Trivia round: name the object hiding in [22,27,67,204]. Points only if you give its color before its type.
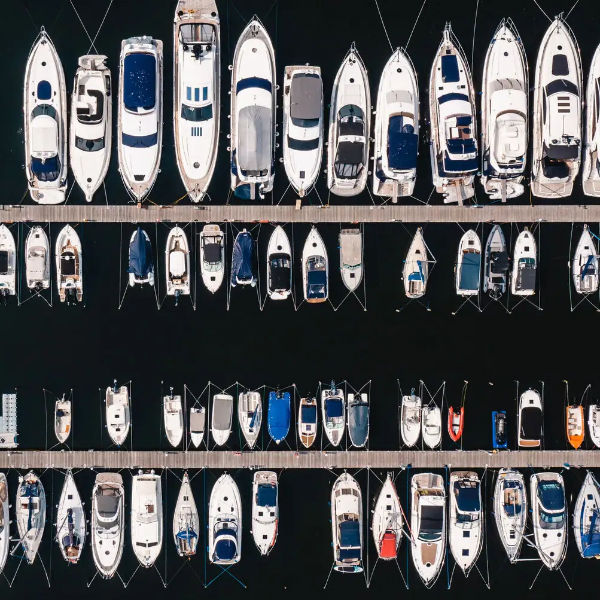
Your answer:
white boat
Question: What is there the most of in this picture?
water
